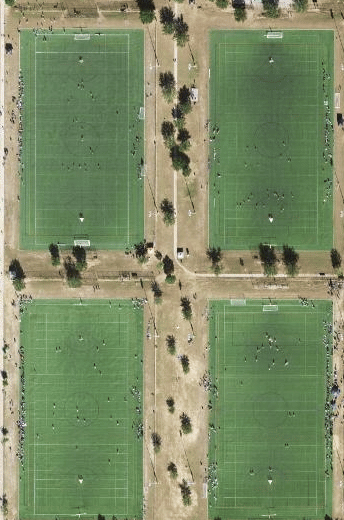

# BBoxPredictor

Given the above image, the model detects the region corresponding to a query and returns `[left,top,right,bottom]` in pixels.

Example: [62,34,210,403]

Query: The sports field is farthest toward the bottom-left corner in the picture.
[19,298,144,520]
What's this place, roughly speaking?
sports ground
